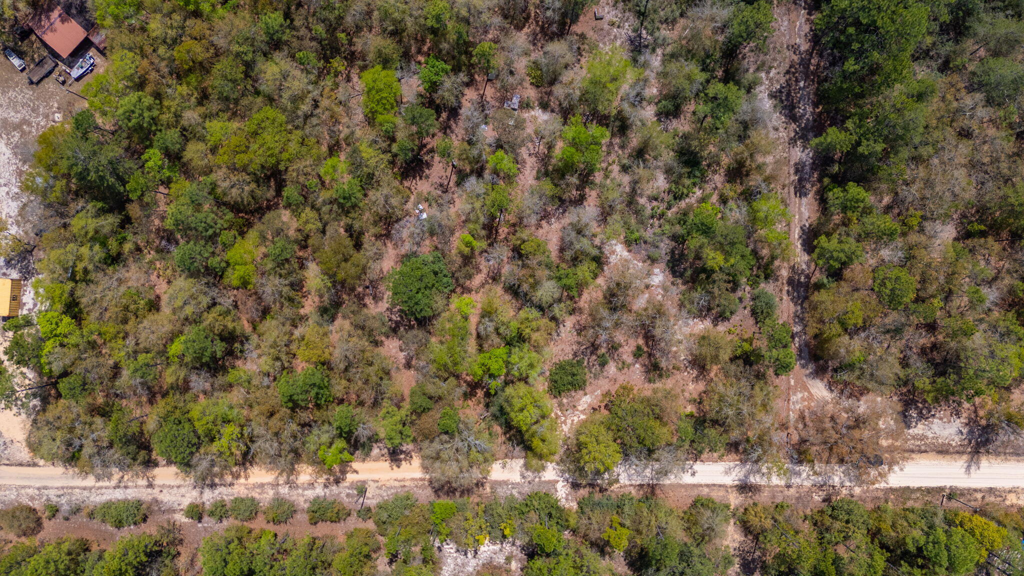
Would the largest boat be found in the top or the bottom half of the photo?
top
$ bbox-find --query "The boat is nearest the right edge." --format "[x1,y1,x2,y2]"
[69,56,97,78]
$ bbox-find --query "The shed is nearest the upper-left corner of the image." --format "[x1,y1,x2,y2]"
[29,0,89,61]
